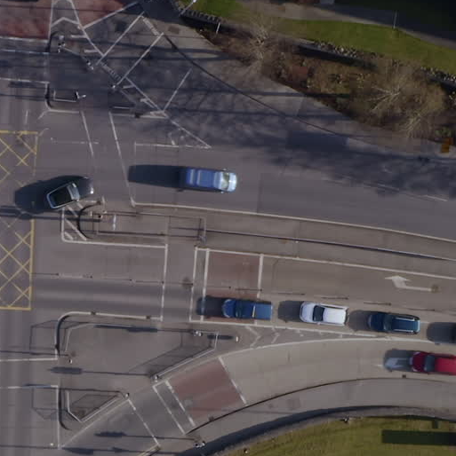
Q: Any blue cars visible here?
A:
Yes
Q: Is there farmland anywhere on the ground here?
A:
No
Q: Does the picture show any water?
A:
No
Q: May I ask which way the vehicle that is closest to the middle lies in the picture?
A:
horizontally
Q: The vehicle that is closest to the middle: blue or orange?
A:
blue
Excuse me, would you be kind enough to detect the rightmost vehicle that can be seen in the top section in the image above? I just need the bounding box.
[180,168,235,192]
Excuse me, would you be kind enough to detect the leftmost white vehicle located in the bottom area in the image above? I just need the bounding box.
[298,302,347,325]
